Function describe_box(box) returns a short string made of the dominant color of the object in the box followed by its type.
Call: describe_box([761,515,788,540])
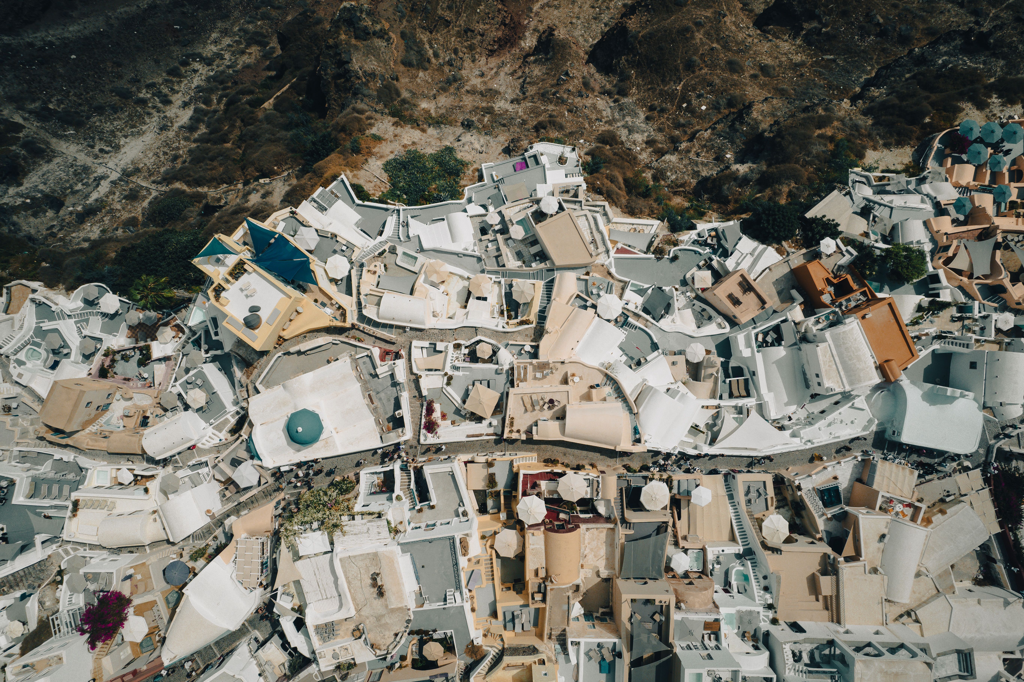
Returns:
white umbrella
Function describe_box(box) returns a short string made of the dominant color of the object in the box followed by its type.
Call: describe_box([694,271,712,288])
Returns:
white umbrella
